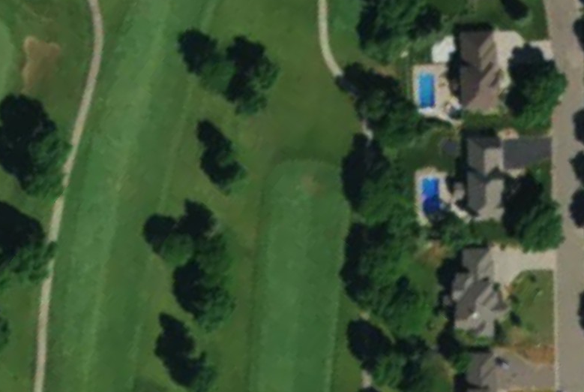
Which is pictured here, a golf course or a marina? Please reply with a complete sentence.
It's a golf course.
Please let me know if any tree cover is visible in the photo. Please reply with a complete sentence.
Yes, there is tree cover in the image.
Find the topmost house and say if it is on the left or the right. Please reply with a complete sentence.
The topmost house appears in the right half of the scene.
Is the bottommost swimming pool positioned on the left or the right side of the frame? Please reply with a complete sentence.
You can find the bottommost swimming pool on the right side of the picture.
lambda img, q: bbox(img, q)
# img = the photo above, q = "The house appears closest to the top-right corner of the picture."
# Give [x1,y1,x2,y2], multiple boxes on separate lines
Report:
[461,31,508,111]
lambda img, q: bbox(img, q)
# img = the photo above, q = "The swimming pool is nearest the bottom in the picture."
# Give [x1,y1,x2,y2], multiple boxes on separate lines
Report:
[422,175,442,216]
